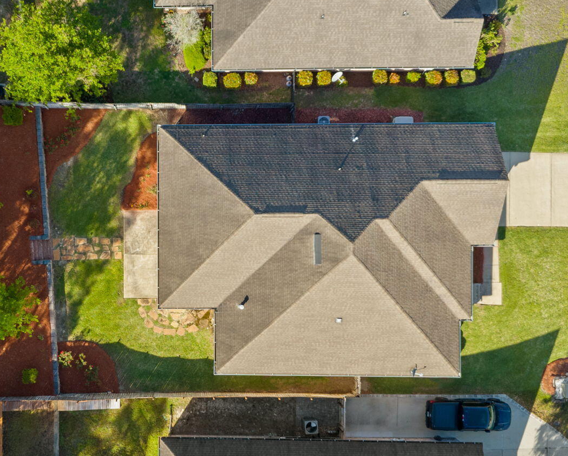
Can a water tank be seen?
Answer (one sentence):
No, there's no water tank here.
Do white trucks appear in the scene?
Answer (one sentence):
No, the photo shows no white truck.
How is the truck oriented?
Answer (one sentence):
In this picture, the truck lies horizontally.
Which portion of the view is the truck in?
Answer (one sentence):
The truck is in the bottom right part of the image.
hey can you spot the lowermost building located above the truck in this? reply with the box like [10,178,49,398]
[155,122,509,378]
